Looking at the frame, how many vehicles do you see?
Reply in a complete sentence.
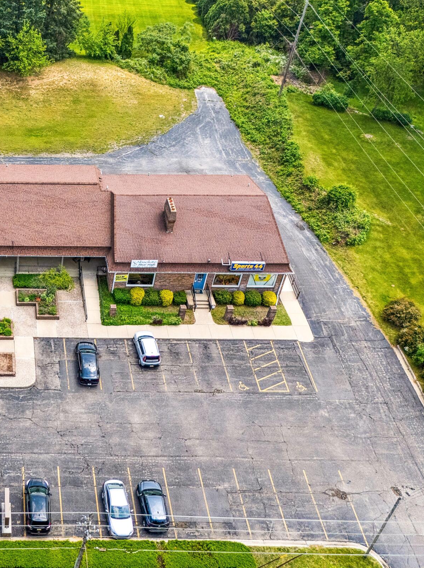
The photo contains 5 vehicles.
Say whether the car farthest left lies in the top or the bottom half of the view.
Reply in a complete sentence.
The car farthest left sits in the bottom half of the picture.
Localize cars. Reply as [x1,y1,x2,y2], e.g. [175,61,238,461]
[137,481,171,533]
[76,342,102,387]
[133,332,162,368]
[24,479,54,536]
[102,479,135,540]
